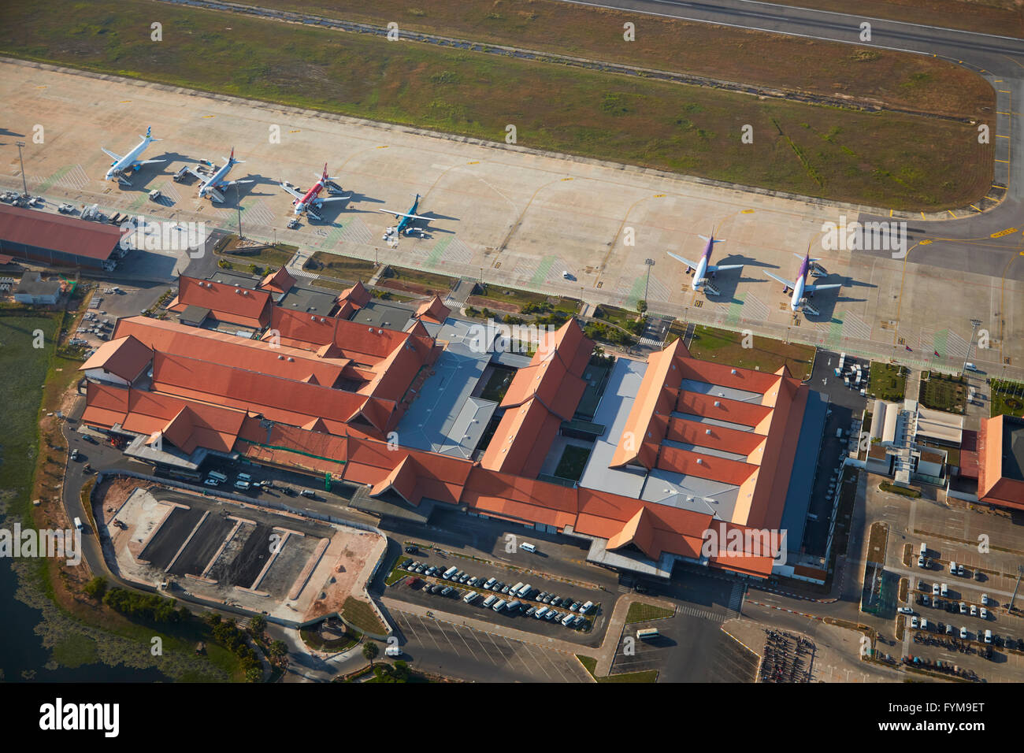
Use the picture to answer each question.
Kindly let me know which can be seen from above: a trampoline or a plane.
plane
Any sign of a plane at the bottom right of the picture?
No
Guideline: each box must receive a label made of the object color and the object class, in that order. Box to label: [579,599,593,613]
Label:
white vehicle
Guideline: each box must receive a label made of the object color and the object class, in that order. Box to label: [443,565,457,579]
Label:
white vehicle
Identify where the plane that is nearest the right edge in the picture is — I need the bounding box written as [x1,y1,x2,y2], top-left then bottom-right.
[761,251,839,309]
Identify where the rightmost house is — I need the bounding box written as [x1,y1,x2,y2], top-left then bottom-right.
[959,414,1024,524]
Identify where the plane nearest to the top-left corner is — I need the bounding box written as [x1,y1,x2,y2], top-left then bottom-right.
[94,129,160,179]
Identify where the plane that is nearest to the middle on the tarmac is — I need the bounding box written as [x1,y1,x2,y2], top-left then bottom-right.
[379,196,436,235]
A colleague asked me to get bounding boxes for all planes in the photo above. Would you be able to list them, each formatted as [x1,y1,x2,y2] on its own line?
[94,129,160,179]
[281,163,351,215]
[761,251,839,309]
[379,196,436,235]
[185,146,252,198]
[666,235,742,290]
